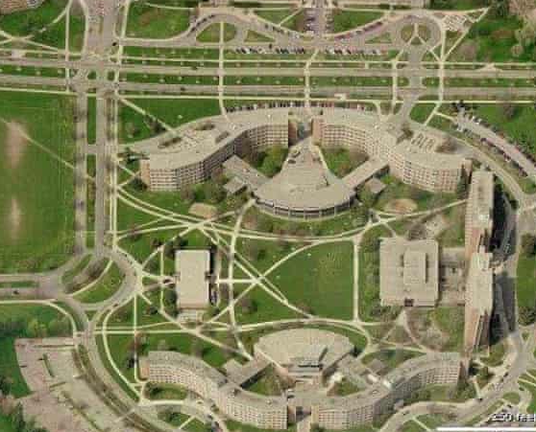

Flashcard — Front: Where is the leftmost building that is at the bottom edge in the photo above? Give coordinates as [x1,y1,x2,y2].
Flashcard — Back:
[140,351,296,430]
